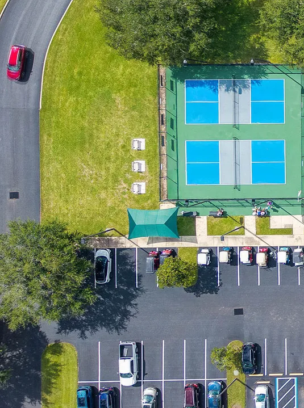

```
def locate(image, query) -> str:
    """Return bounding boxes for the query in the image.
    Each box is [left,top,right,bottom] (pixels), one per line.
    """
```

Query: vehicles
[241,247,254,266]
[257,248,271,267]
[185,382,202,408]
[99,386,118,408]
[148,251,162,269]
[77,384,95,408]
[118,340,140,386]
[254,384,271,408]
[6,44,29,81]
[199,247,213,266]
[220,247,233,266]
[293,248,304,267]
[160,247,175,257]
[242,341,259,375]
[93,248,114,285]
[141,386,159,408]
[206,380,225,408]
[277,247,291,266]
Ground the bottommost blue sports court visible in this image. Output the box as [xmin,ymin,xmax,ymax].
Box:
[185,140,286,185]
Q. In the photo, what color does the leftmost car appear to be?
red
